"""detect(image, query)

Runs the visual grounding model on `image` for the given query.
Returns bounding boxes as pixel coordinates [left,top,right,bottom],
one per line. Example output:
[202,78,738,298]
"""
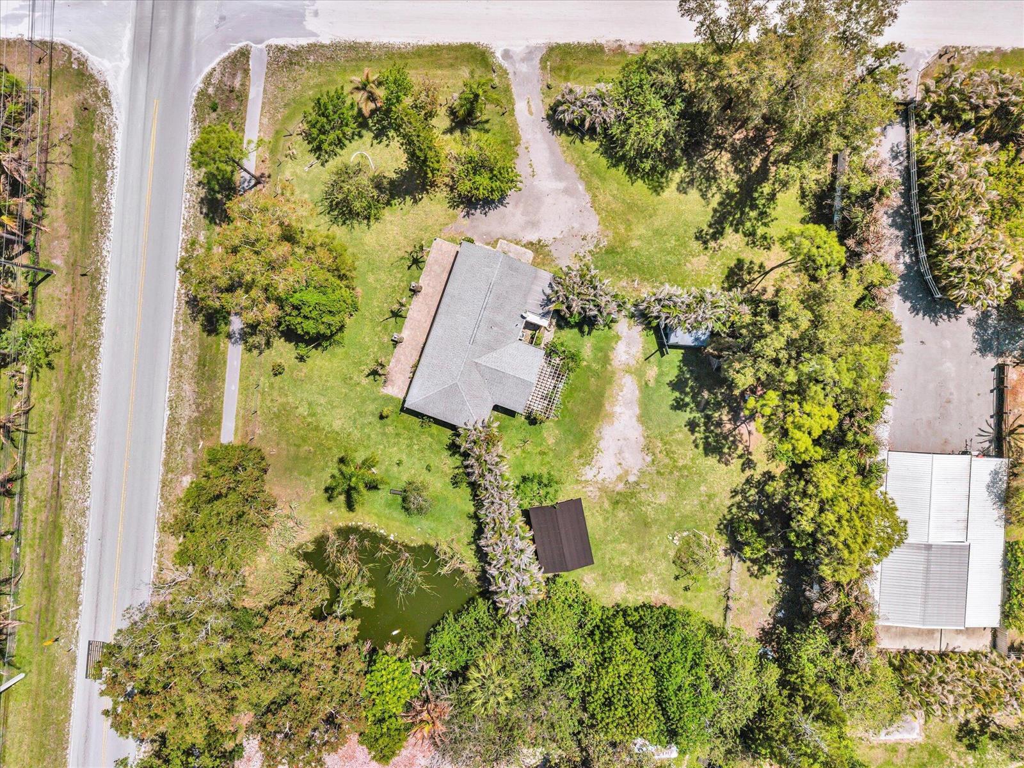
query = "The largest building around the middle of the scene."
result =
[404,242,552,436]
